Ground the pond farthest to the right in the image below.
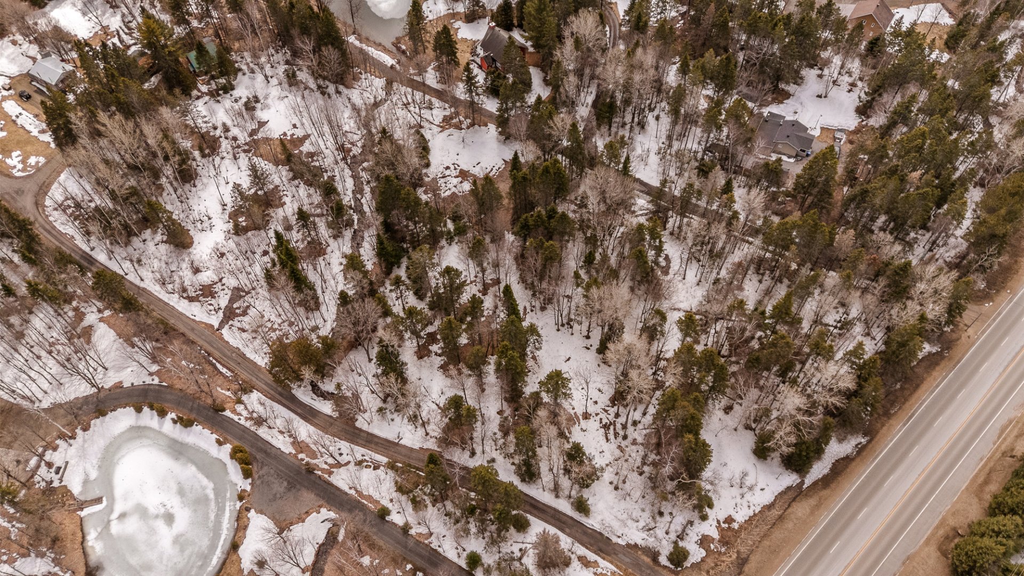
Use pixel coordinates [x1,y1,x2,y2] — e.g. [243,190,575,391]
[327,0,410,53]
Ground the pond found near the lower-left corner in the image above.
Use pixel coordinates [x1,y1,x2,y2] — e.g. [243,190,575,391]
[79,429,239,576]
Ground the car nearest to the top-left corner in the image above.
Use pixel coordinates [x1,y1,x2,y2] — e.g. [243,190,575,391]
[15,89,31,101]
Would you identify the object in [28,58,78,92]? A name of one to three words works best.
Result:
house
